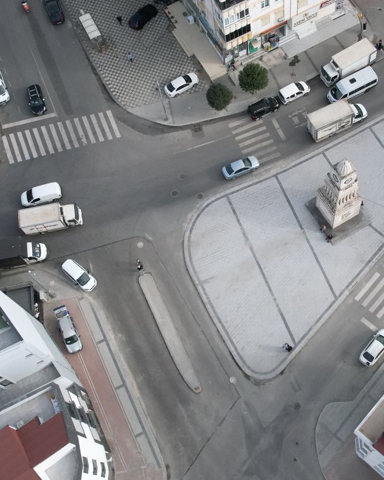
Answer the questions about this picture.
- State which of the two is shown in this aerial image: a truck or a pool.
truck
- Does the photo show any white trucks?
Yes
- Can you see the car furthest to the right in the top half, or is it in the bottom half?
bottom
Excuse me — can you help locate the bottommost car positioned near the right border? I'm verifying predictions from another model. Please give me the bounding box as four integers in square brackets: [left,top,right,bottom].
[358,327,384,371]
